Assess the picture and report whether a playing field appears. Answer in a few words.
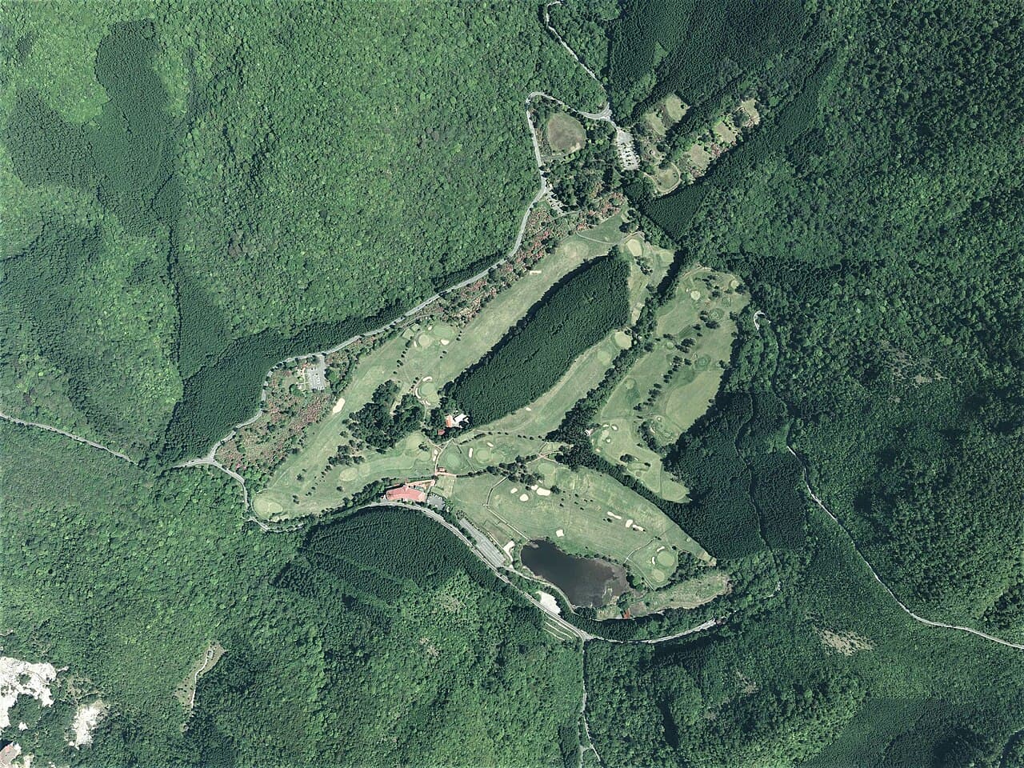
Yes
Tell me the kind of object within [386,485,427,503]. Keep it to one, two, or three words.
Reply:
building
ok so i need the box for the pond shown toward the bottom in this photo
[523,541,626,606]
